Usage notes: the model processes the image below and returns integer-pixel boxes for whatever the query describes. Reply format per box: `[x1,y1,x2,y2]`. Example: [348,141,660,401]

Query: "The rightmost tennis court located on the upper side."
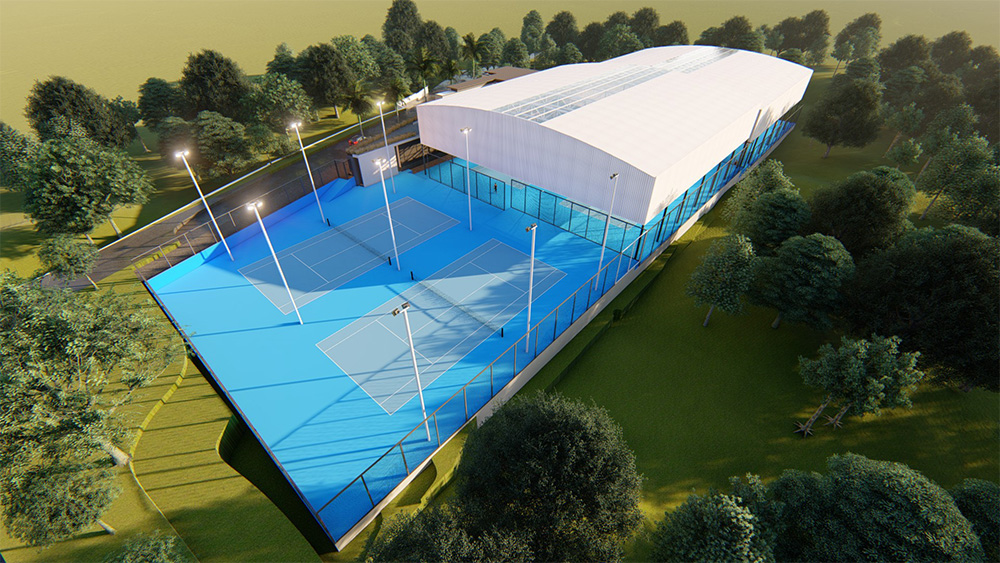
[546,193,622,224]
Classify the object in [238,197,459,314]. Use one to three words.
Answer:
tennis court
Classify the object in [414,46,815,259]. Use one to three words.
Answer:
building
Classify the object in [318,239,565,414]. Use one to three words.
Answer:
tennis court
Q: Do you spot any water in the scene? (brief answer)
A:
No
